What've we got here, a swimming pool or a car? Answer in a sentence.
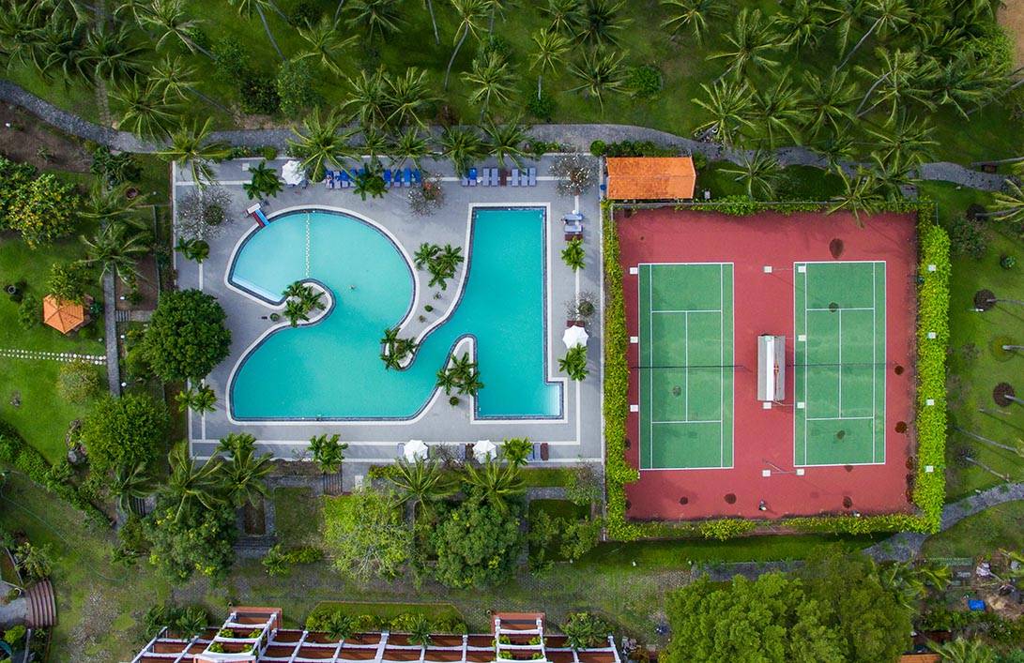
I can see a swimming pool in this picture.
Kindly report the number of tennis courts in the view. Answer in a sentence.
The picture shows 2 tennis courts.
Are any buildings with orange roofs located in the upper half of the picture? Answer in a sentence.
Yes, a building with an orange roof appears in the upper half of the picture.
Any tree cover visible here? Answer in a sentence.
Yes, tree cover can be seen from above here.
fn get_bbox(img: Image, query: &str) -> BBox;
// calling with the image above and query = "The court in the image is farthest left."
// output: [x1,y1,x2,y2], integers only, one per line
[635,263,745,470]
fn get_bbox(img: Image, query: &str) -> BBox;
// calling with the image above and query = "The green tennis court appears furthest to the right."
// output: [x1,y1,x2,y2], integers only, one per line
[787,261,899,466]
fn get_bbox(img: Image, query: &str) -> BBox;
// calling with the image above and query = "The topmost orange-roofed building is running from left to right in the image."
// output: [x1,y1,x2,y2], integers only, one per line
[606,157,697,199]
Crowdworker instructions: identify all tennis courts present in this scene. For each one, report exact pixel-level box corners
[635,263,745,470]
[787,261,899,466]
